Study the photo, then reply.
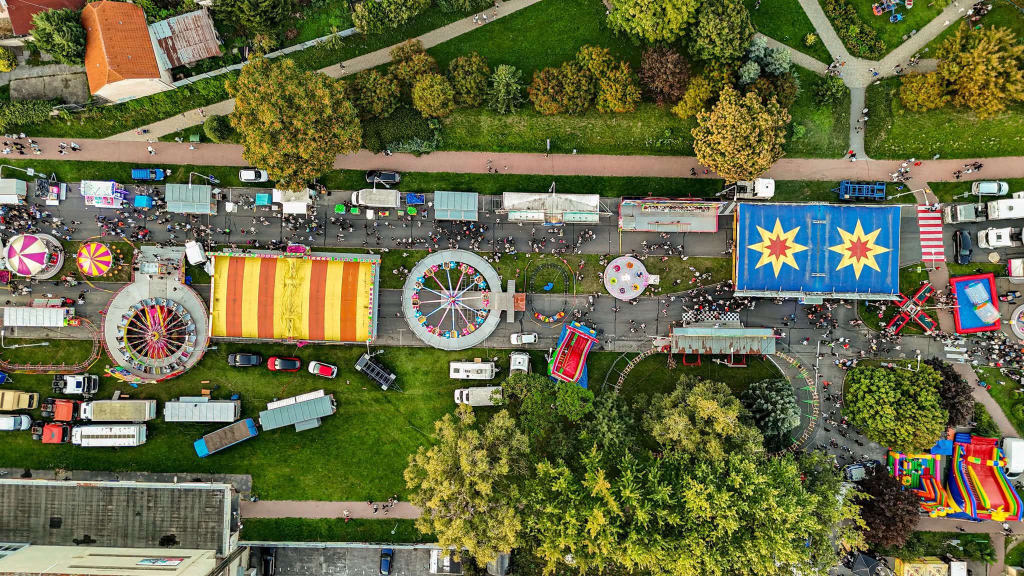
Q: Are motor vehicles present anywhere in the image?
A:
Yes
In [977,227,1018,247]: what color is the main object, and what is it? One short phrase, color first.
white vehicle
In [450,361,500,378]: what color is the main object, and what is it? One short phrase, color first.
white camper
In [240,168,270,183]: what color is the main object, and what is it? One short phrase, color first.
white car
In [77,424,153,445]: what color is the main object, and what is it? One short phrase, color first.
white truck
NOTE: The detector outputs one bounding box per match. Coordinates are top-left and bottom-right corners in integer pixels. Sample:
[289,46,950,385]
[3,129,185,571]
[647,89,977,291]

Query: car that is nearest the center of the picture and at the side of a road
[510,332,537,345]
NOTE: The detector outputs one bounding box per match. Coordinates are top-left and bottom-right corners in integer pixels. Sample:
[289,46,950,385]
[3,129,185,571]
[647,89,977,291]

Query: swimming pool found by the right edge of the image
[947,271,1004,336]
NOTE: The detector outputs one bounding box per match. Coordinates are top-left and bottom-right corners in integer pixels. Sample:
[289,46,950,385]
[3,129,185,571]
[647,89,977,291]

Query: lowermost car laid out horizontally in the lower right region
[843,461,880,481]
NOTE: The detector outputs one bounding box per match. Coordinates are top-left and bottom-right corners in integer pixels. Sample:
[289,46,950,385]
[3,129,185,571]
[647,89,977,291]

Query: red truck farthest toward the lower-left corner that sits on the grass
[31,425,74,446]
